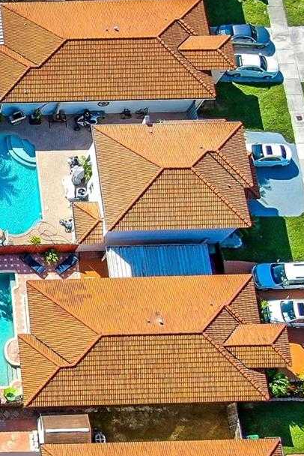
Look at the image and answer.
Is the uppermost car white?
No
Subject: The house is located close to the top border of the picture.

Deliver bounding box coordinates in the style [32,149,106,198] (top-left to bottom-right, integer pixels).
[0,0,233,115]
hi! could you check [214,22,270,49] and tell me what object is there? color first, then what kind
blue car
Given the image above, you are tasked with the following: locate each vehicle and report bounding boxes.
[214,22,270,49]
[224,55,282,82]
[237,141,296,169]
[251,261,304,292]
[265,298,304,328]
